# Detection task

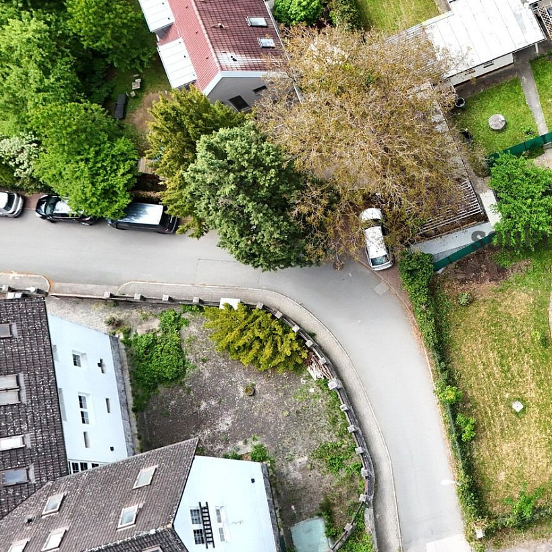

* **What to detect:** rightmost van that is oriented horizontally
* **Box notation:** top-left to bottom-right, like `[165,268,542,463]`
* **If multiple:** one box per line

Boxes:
[103,198,179,238]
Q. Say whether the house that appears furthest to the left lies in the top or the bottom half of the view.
bottom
